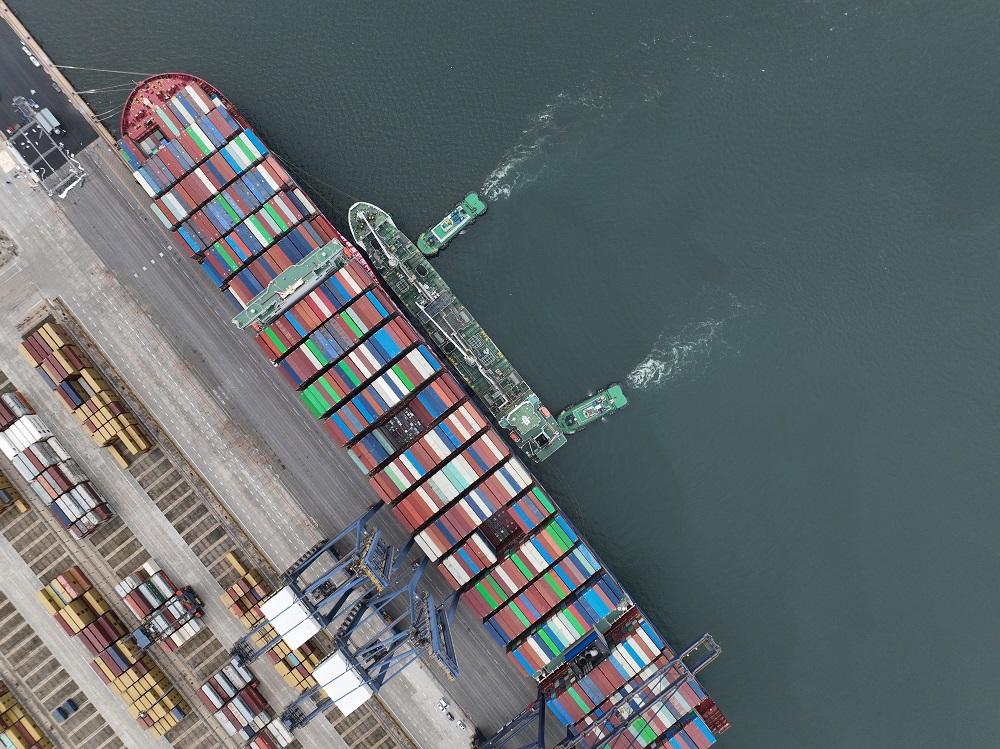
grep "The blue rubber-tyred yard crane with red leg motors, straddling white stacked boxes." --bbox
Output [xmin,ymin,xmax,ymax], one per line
[115,591,196,660]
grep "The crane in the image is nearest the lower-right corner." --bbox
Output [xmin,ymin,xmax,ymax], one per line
[464,632,720,749]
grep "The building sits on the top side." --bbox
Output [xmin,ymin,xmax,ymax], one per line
[34,106,65,137]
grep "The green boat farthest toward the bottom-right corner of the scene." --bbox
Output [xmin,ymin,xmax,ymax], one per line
[555,381,630,434]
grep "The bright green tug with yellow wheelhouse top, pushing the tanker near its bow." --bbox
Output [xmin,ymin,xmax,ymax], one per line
[417,191,485,256]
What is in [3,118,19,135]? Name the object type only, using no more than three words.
vehicle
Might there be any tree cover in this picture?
No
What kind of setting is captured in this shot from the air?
port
